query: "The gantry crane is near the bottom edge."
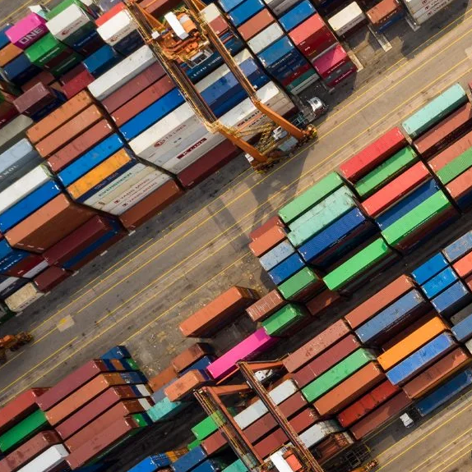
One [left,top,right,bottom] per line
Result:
[186,345,378,472]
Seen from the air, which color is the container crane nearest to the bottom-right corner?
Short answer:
red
